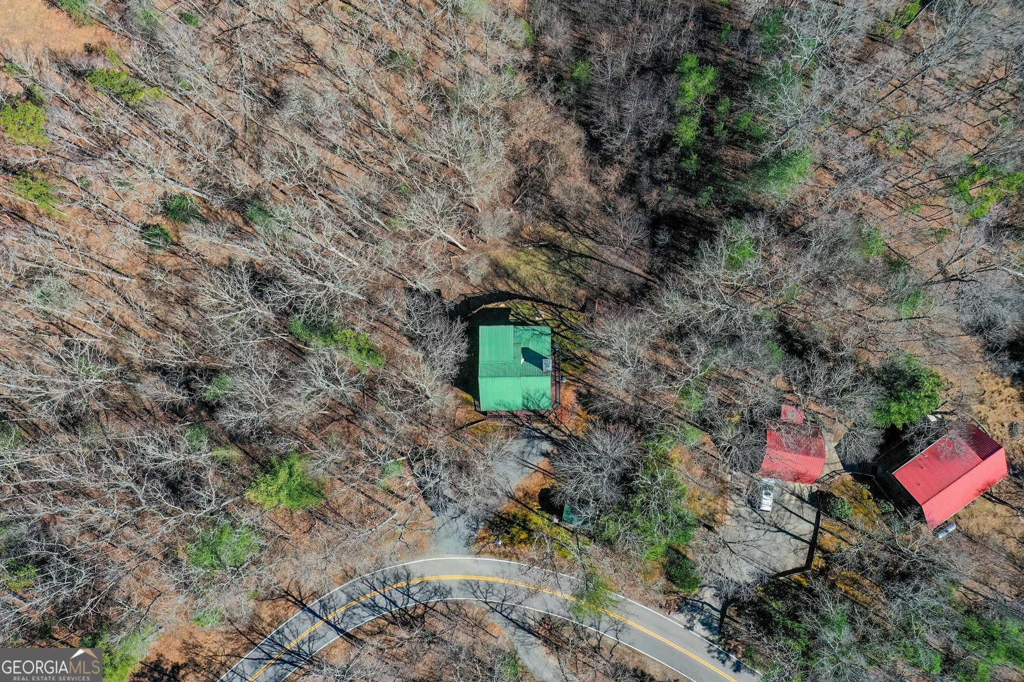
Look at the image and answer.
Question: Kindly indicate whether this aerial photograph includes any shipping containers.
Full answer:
No, there isn't any shipping container down there.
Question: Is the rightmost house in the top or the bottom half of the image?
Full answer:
It is in the bottom half that the rightmost house appears.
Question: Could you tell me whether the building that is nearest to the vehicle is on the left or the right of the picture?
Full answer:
It is on the right.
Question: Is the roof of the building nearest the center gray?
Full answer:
No, the color of the roof of the building nearest the center is green.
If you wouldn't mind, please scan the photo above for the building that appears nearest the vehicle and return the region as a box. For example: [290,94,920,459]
[755,420,826,485]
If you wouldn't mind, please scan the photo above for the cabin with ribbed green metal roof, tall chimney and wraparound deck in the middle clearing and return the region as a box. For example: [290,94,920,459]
[473,325,562,427]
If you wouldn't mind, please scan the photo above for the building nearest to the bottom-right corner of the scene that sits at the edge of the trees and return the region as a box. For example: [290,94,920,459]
[871,417,1008,533]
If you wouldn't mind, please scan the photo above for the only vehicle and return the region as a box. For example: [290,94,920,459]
[759,478,775,513]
